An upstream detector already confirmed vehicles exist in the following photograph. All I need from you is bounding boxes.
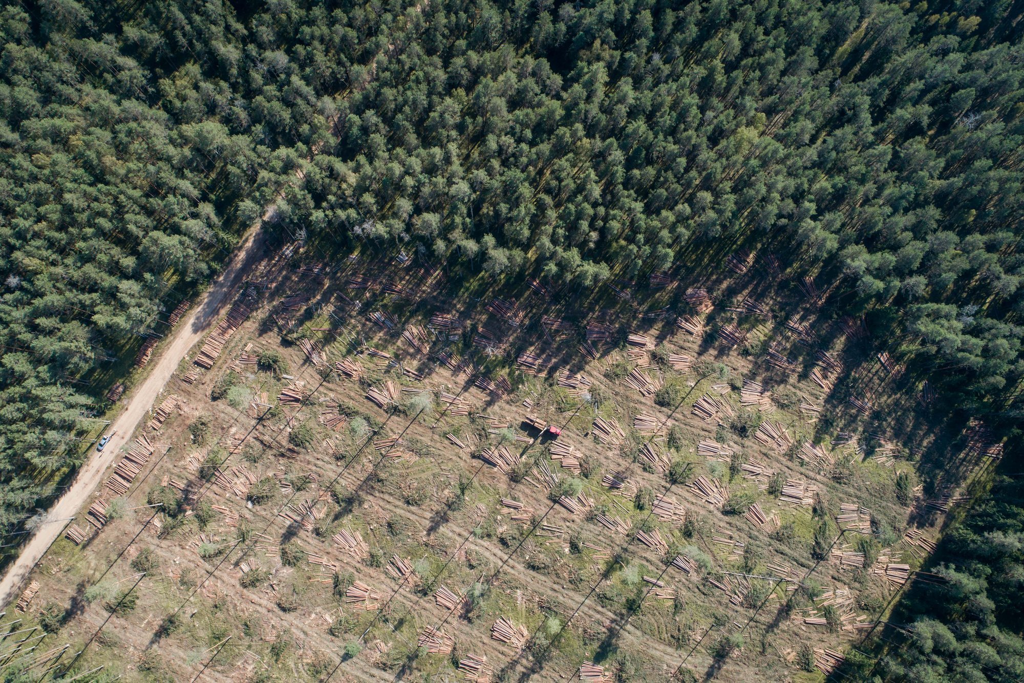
[95,434,112,453]
[530,413,561,443]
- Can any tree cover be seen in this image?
Yes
